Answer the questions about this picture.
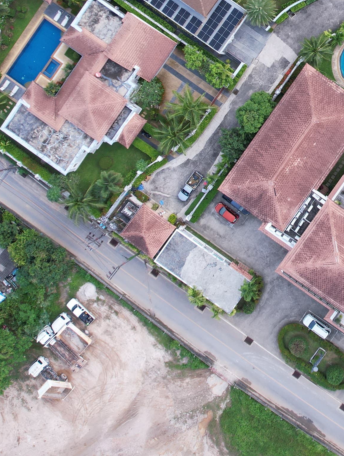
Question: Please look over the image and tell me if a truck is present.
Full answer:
Yes, the frame does contain a truck.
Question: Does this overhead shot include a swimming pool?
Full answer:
Yes, you can see a swimming pool in this photo.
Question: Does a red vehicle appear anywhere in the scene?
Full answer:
Yes, the photo shows a red vehicle.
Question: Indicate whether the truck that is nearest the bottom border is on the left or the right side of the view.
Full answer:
The truck that is nearest the bottom border is on the left side of the image.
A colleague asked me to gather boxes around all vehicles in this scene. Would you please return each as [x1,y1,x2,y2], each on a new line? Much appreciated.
[219,196,250,219]
[65,299,92,328]
[303,316,331,339]
[26,330,81,373]
[19,357,67,410]
[39,310,87,356]
[177,171,202,202]
[213,204,238,225]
